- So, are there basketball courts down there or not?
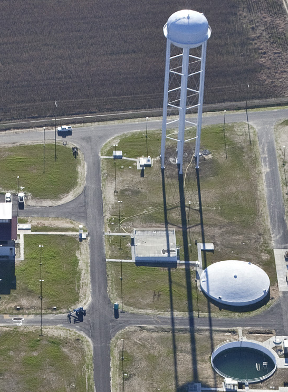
No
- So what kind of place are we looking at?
industrial area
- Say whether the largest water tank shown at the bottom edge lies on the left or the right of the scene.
right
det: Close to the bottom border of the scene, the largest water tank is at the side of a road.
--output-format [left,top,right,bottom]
[207,336,282,385]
